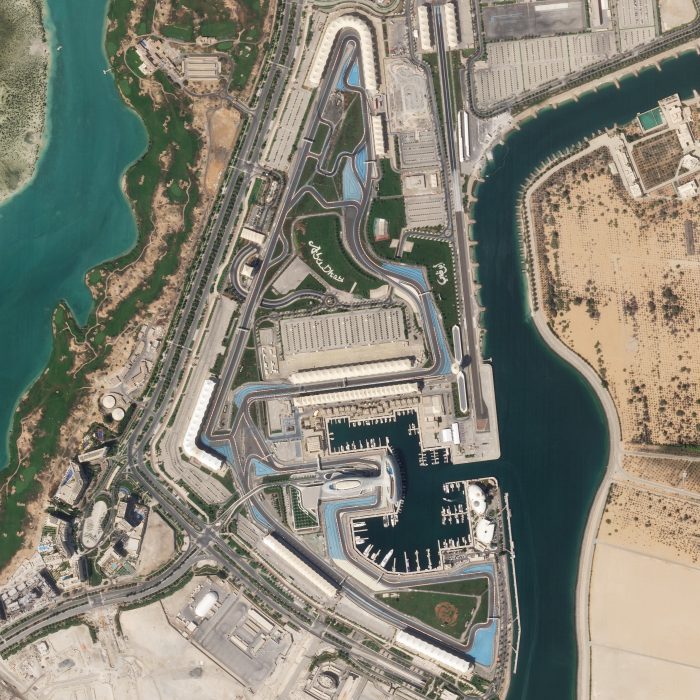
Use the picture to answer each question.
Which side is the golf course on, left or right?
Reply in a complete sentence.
You can find the golf course on the left side of the picture.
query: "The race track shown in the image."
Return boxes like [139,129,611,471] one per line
[201,28,498,667]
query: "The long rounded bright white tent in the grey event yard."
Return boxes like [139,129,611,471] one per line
[196,593,218,617]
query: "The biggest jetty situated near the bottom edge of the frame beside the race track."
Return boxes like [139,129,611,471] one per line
[502,494,519,672]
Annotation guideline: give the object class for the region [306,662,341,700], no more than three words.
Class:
building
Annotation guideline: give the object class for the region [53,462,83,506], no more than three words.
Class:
building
